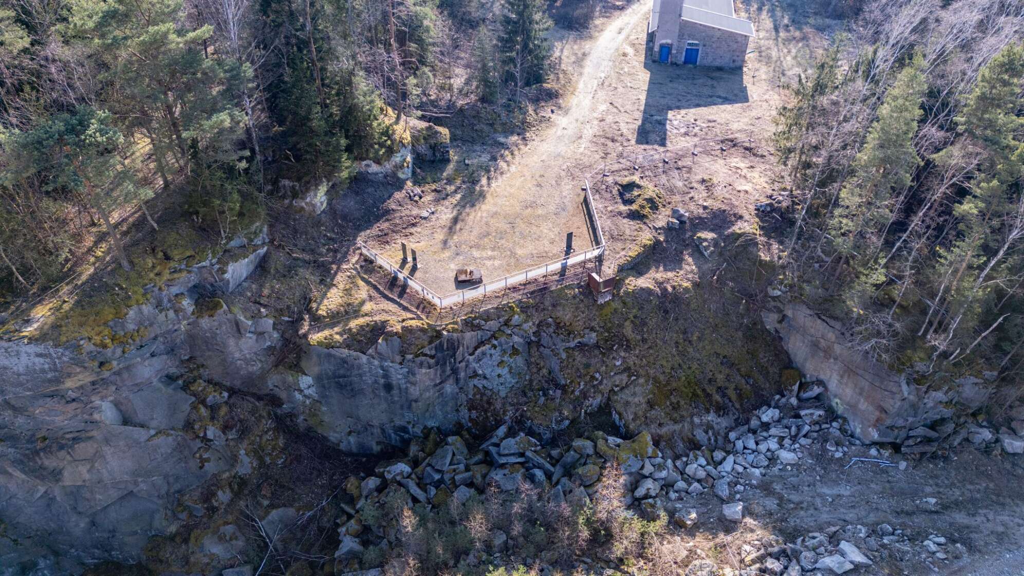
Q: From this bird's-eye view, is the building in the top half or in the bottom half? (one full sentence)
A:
It is in the top half that the building appears.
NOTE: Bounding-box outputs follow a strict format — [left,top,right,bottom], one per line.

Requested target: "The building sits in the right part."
[647,0,757,67]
